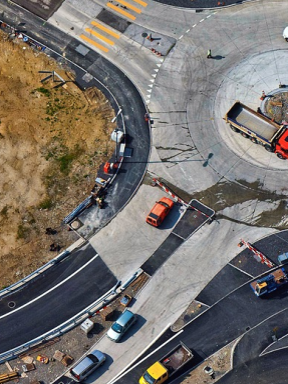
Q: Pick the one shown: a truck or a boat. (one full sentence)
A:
There is a truck in the scene.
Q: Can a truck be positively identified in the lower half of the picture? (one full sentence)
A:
Yes, looking in the lower half of the picture, one can make out a truck.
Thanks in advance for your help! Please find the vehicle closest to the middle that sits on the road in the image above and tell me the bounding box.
[145,195,176,230]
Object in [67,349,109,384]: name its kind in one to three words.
car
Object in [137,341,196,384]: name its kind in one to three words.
truck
